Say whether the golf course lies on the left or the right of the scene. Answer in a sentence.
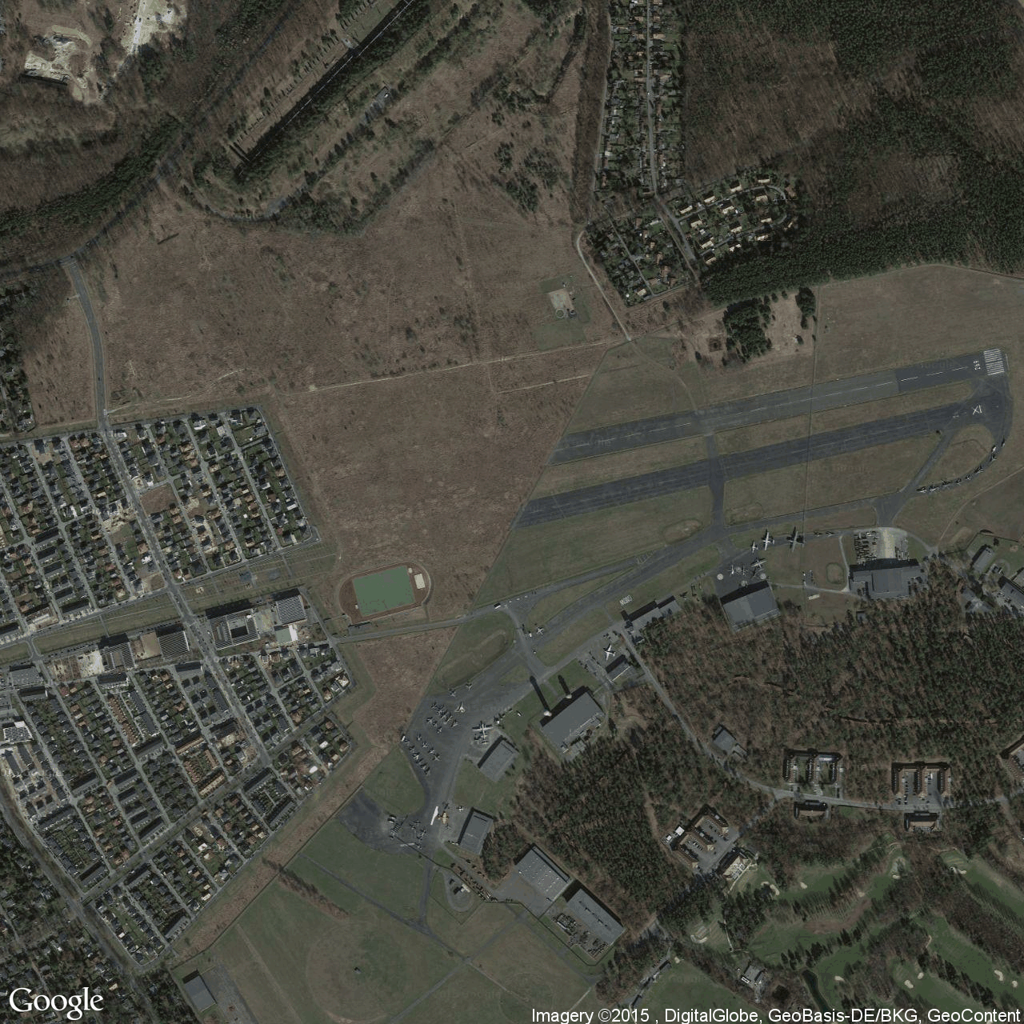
The golf course appears in the right half of the scene.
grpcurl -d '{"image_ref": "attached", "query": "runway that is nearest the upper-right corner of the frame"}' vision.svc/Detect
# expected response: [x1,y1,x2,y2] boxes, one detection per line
[896,348,1009,392]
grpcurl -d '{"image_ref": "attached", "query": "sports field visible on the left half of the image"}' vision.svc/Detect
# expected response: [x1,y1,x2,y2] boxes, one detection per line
[337,560,433,637]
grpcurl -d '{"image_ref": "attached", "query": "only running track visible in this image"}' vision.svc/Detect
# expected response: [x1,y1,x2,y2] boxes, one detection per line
[339,562,430,625]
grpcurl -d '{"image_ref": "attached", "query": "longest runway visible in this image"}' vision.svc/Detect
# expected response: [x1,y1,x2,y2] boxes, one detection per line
[513,390,1013,529]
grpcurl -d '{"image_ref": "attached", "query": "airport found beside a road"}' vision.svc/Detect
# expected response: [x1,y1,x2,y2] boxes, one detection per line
[299,348,1014,1024]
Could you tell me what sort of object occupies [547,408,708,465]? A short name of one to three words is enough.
runway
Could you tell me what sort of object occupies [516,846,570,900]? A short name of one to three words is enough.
building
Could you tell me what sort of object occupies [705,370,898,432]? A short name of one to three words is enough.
runway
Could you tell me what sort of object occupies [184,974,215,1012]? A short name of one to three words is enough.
hangar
